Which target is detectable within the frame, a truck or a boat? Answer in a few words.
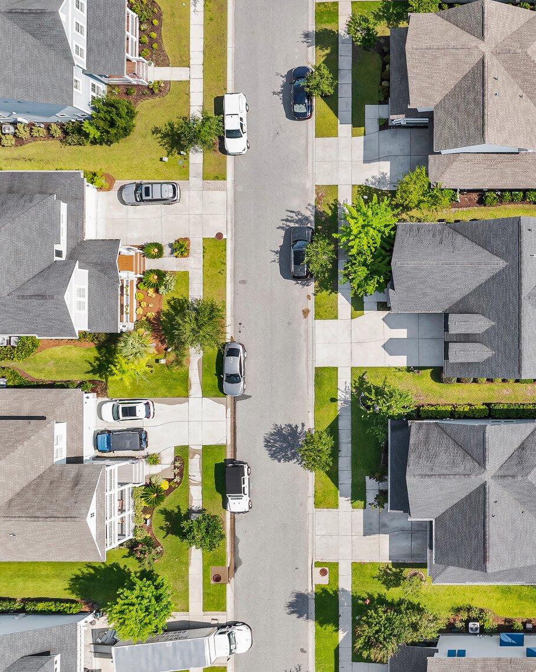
truck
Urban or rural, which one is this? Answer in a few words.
urban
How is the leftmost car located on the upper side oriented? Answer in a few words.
from side to side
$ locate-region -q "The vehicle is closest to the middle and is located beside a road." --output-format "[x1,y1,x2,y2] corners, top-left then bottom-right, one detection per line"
[221,341,247,396]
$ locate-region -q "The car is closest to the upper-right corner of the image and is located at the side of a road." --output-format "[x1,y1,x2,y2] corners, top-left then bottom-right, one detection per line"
[287,64,313,119]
